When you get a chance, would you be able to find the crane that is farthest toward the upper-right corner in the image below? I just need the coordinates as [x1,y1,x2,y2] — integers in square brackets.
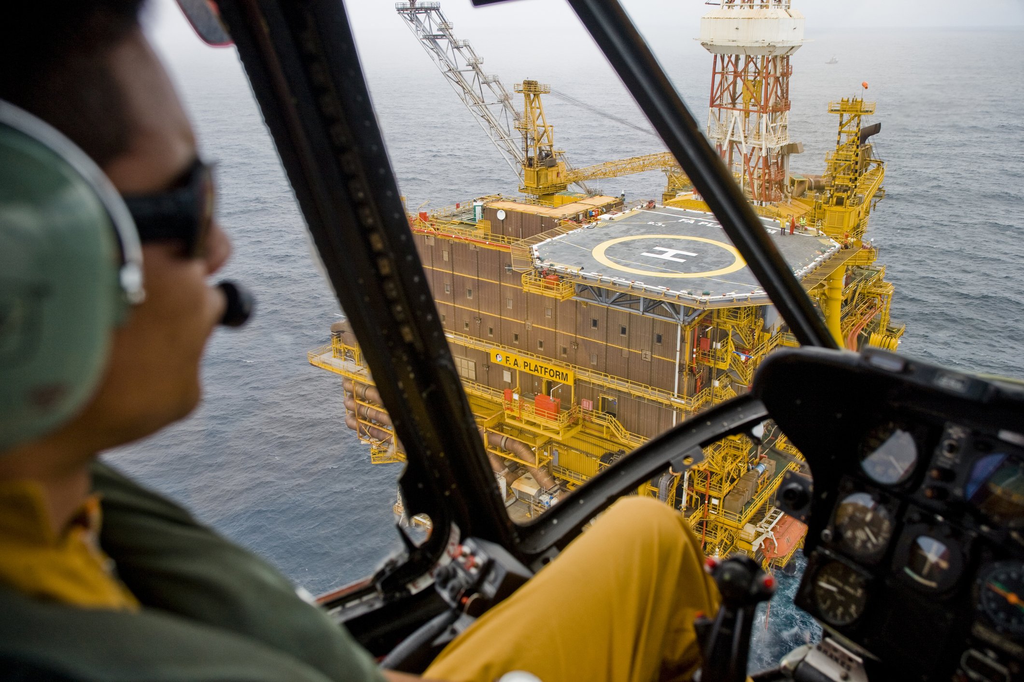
[812,97,887,334]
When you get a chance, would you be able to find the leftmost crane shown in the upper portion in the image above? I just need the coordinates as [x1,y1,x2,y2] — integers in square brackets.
[505,73,678,203]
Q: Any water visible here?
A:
Yes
